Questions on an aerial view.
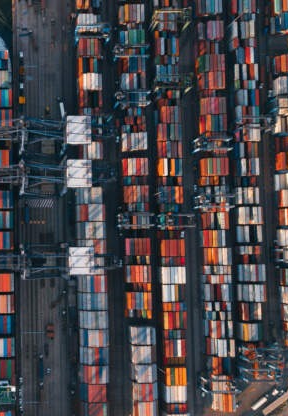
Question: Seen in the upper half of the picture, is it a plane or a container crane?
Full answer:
Visible in the upper half of the picture is a container crane.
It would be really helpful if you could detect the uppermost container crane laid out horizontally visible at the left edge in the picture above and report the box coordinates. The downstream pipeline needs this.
[0,115,114,165]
